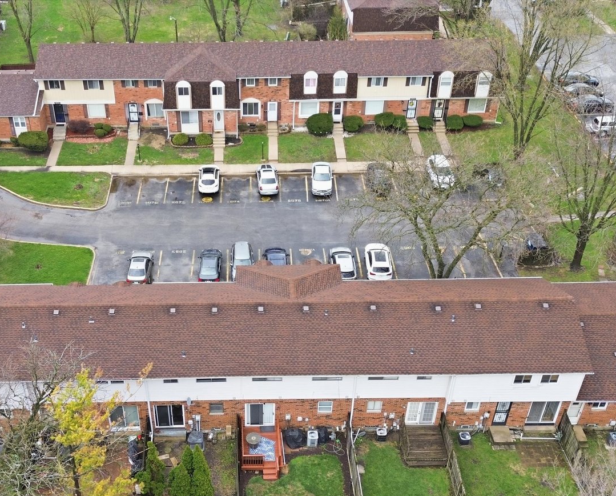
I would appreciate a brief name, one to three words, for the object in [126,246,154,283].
car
